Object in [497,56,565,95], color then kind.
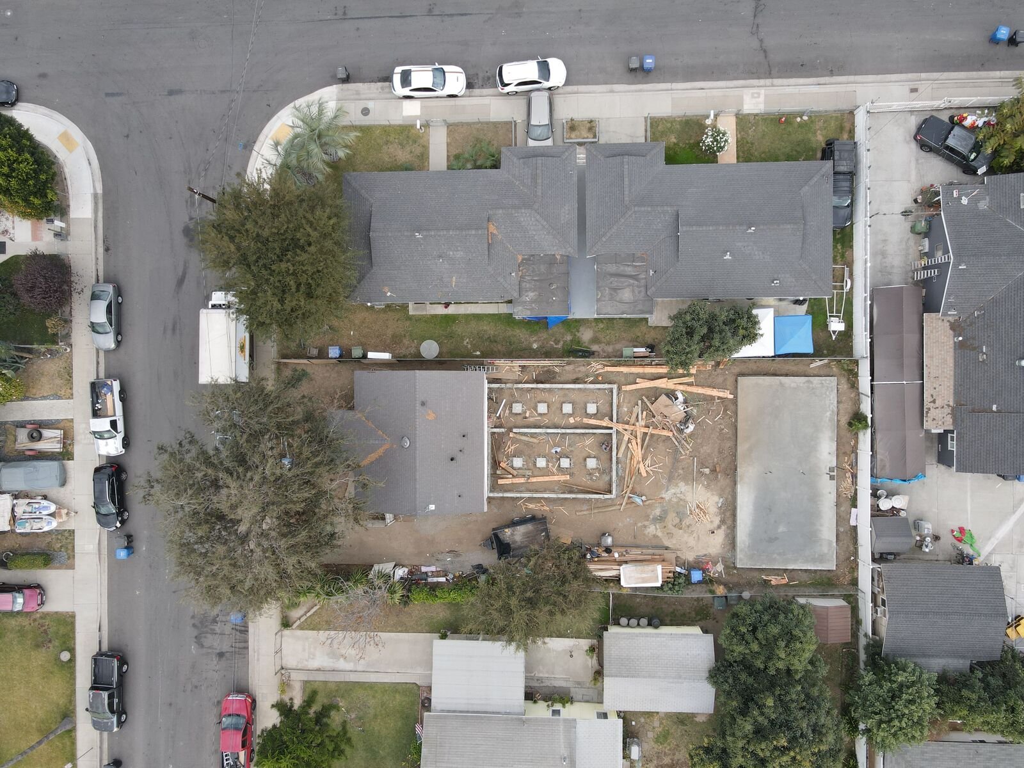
white car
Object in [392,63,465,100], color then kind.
white car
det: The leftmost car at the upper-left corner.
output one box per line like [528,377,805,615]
[0,80,23,110]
